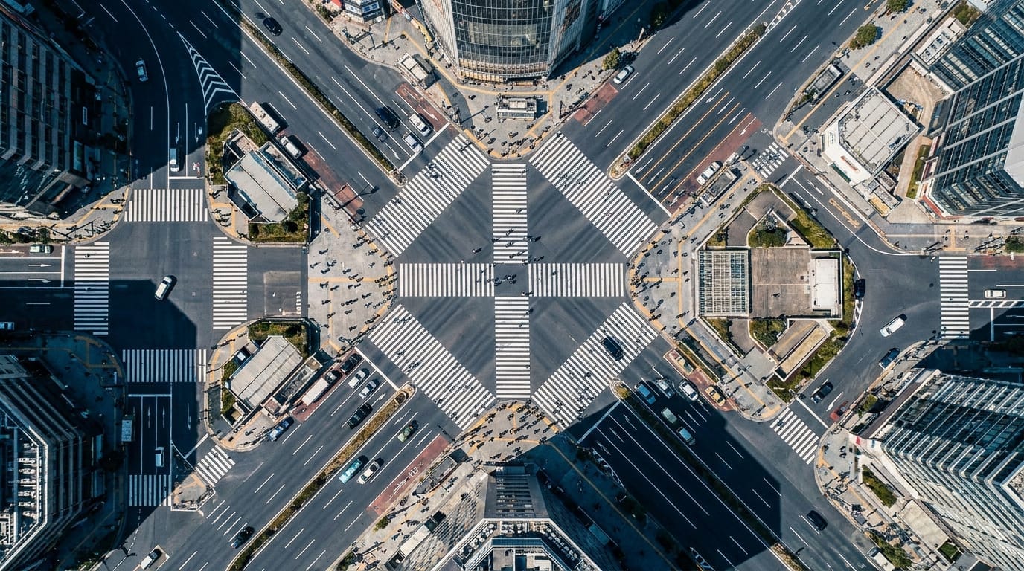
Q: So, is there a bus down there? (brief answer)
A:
Yes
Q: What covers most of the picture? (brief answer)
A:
paved ground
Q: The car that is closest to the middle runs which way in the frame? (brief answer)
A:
at an angle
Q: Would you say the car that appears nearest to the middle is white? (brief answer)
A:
No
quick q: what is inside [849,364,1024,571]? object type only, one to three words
building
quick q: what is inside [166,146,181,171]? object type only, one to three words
vehicle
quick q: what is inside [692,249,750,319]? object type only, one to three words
building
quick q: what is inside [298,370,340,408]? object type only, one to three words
truck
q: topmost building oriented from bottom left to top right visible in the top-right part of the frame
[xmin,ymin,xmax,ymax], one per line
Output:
[900,17,966,76]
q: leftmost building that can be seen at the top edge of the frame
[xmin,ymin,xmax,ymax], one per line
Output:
[0,0,91,218]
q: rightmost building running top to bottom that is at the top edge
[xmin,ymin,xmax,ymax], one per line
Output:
[927,0,1024,219]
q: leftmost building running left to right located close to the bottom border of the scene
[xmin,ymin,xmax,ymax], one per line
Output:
[391,467,617,571]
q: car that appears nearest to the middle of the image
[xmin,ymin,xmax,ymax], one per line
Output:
[599,335,625,362]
